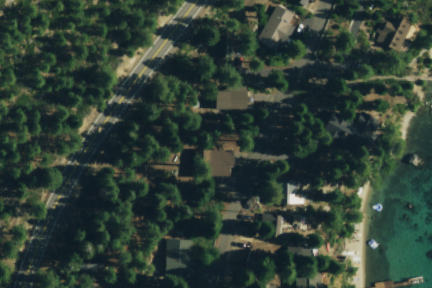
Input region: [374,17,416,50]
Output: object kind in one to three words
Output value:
house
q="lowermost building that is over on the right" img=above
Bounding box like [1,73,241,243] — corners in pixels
[294,272,327,287]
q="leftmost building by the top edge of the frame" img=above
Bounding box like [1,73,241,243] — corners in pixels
[260,5,296,46]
